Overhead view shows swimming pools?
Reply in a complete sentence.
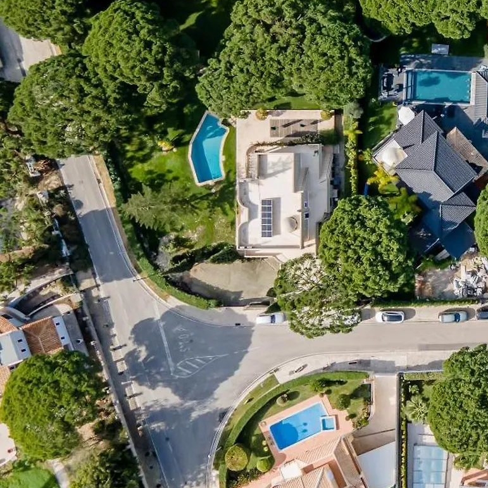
Yes, there's a swimming pool down there.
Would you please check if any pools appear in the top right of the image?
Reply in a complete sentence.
Yes, there is a pool in the top right of the image.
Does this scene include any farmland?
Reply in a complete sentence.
No, there is no farmland in the image.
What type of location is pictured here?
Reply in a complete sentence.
What you see here is a residential area.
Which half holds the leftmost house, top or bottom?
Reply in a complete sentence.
The leftmost house is in the bottom half of the image.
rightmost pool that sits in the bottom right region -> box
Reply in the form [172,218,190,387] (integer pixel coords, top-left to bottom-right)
[413,445,448,488]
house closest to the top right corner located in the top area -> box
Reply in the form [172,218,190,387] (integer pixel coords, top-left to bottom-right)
[374,56,488,259]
